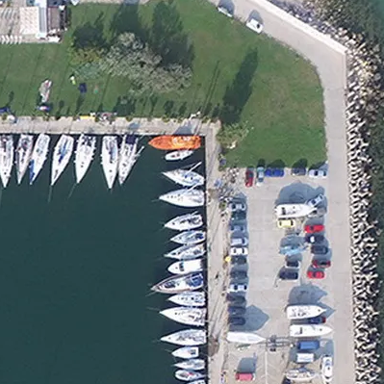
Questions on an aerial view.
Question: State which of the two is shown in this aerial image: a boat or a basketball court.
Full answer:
The image shows a boat.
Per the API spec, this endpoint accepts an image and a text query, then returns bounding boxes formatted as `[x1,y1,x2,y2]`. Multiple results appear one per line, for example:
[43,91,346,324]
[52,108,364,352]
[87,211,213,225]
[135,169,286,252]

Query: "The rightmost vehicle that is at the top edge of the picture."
[246,18,264,33]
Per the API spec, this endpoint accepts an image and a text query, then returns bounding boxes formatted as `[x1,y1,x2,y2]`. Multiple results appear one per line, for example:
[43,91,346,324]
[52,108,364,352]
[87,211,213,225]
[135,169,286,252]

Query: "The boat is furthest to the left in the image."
[0,129,14,201]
